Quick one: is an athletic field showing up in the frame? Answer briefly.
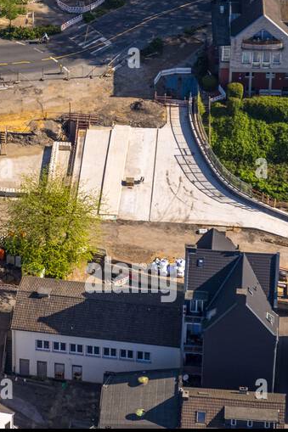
No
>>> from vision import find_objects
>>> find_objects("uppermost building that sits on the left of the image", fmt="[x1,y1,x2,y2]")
[11,266,188,386]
